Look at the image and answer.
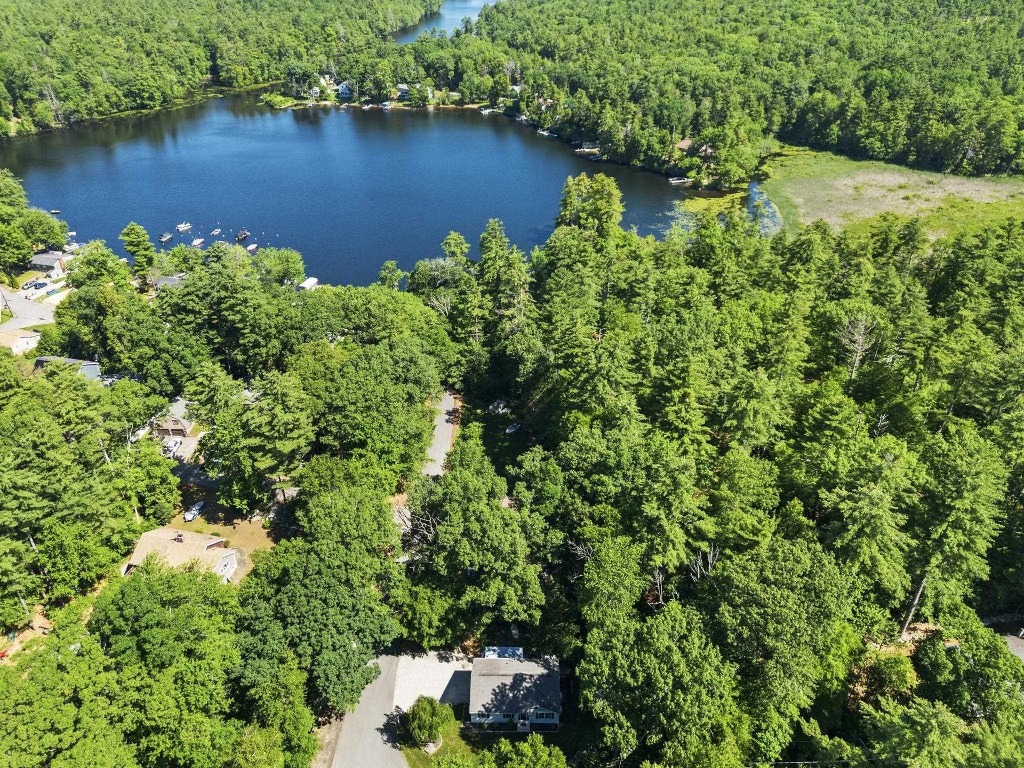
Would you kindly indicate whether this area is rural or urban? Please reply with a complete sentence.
It looks rural.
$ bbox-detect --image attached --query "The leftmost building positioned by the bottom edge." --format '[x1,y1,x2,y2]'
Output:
[470,645,562,740]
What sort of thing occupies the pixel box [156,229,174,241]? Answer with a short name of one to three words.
boat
